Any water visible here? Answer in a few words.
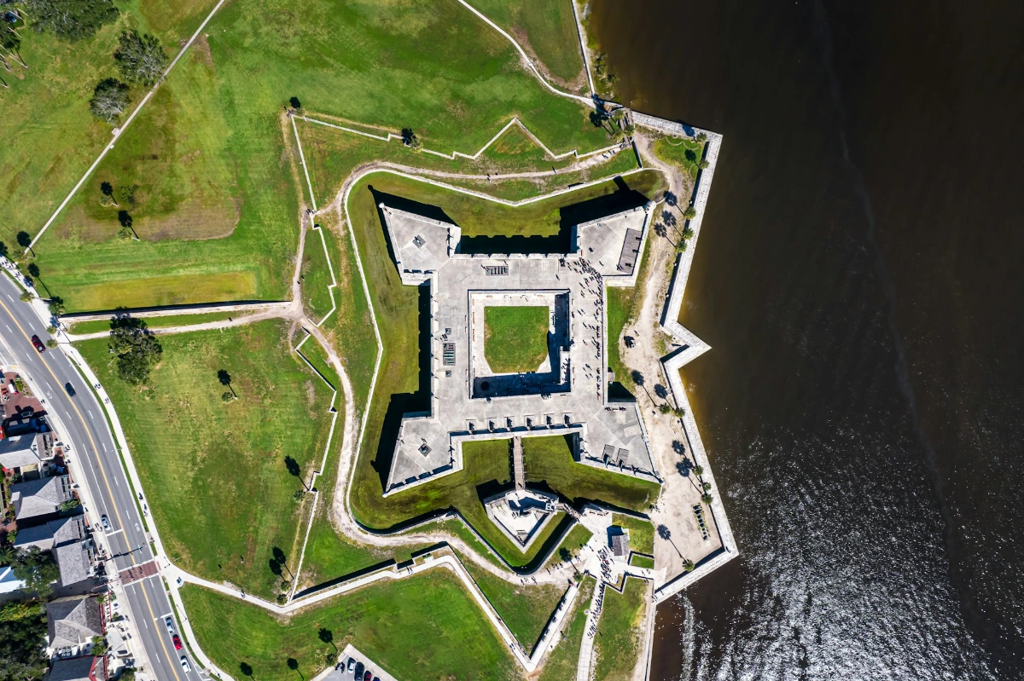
Yes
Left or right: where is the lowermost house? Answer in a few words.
left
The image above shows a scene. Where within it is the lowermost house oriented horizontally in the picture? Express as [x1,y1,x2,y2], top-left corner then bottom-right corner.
[44,650,110,681]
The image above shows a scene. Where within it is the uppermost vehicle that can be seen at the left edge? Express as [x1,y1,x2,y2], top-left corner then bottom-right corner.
[29,335,43,351]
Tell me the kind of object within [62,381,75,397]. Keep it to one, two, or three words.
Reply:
vehicle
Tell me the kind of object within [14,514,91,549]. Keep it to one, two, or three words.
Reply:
house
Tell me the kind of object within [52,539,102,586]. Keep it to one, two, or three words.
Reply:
house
